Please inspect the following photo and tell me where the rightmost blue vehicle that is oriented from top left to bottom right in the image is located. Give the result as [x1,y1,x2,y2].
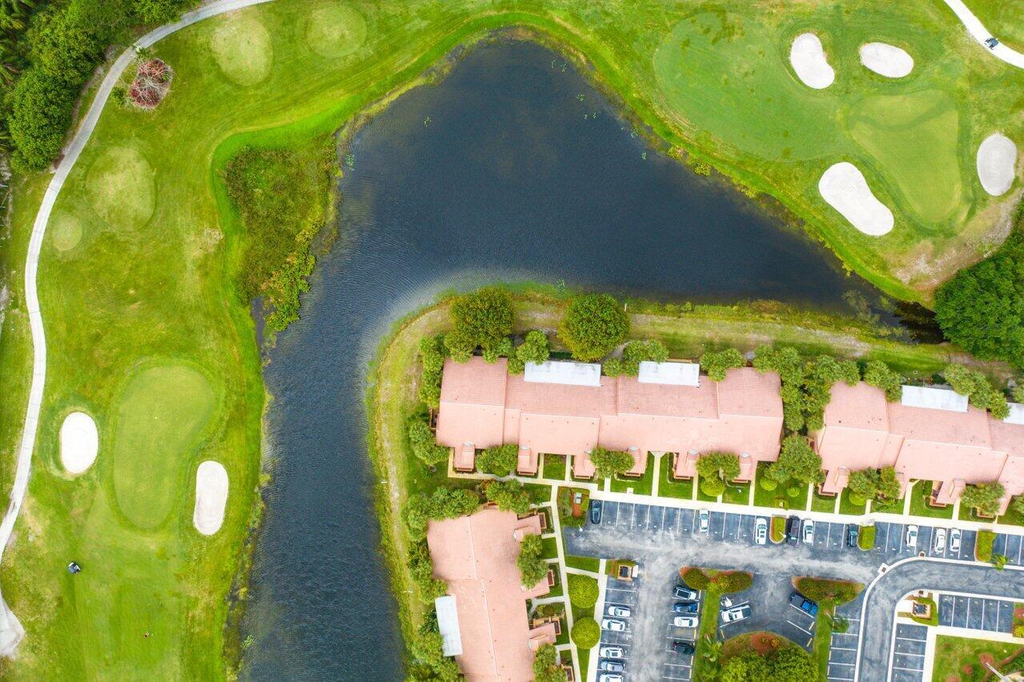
[789,592,819,616]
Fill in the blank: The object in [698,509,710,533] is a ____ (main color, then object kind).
white vehicle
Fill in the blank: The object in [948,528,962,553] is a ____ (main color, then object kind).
white car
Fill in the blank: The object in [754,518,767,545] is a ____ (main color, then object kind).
white vehicle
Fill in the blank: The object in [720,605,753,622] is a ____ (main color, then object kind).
white car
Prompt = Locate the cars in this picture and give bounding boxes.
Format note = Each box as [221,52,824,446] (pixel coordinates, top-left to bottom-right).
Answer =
[754,518,767,545]
[933,527,947,553]
[801,519,814,545]
[599,646,624,659]
[608,605,631,618]
[720,605,753,622]
[599,673,624,682]
[698,509,710,533]
[673,585,699,601]
[601,618,626,631]
[671,642,696,655]
[786,517,800,546]
[789,592,819,616]
[600,660,625,673]
[673,616,699,628]
[948,528,962,553]
[846,524,859,548]
[904,525,918,548]
[673,601,698,614]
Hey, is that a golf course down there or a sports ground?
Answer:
golf course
